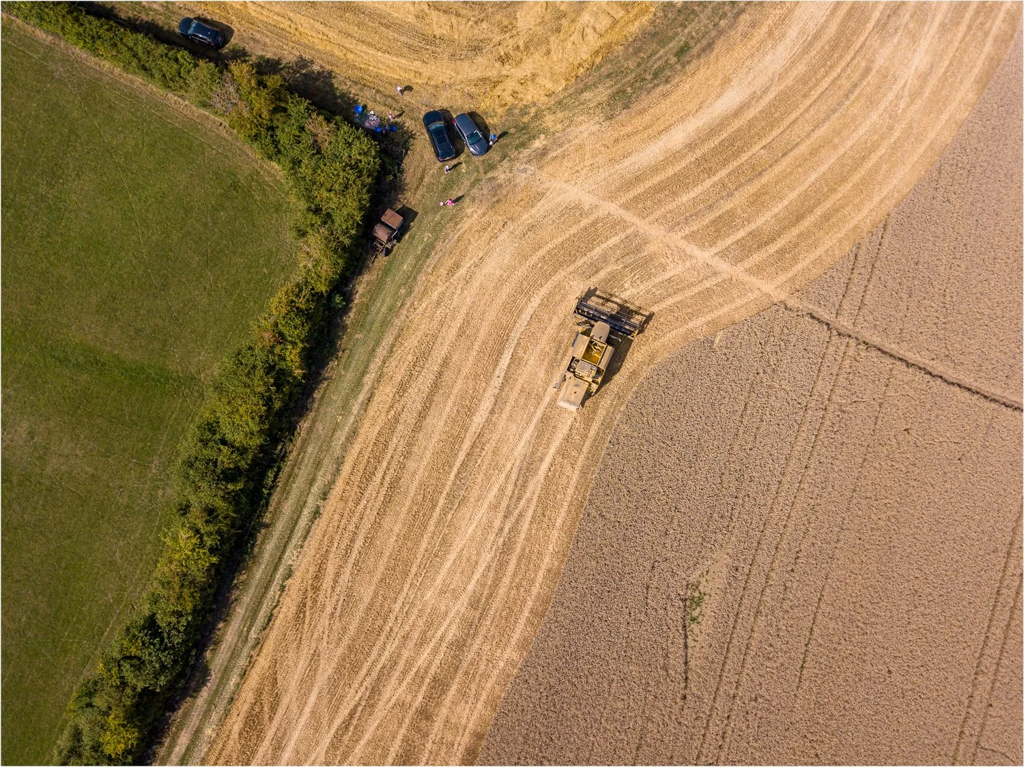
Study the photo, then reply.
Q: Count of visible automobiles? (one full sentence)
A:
In total, there are 3 automobiles in the scene.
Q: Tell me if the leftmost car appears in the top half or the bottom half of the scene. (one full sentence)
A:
It is in the top half that the leftmost car appears.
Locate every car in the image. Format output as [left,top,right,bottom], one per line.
[177,15,227,48]
[455,111,490,157]
[423,110,457,164]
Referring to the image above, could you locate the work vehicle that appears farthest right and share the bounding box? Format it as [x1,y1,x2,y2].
[552,291,642,413]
